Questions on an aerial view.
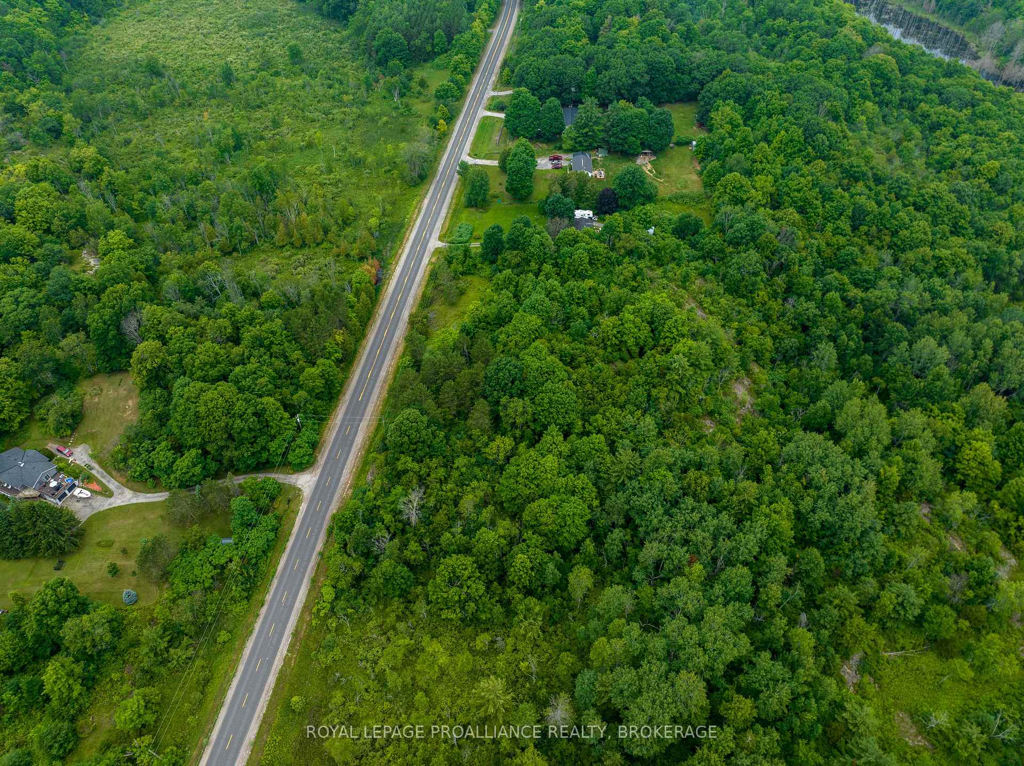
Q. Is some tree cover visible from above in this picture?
Yes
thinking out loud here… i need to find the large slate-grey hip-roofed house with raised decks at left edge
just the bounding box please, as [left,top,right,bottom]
[0,447,87,505]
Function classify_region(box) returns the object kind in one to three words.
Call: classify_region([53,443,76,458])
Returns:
car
